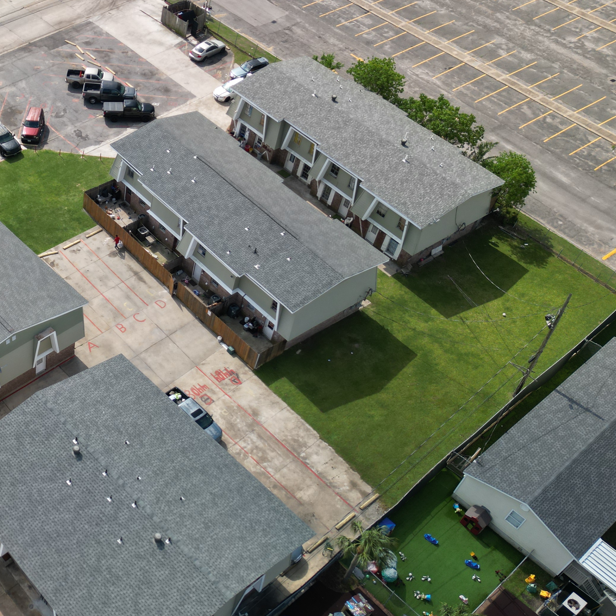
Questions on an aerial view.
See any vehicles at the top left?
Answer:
Yes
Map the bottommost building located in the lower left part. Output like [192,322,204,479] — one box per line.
[0,354,316,616]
